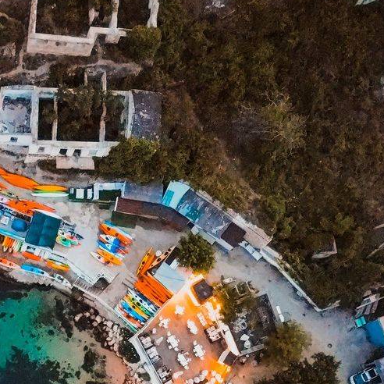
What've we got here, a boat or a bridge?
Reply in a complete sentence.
It is a boat that can be seen here.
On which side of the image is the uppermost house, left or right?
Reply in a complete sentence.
The uppermost house appears in the left half of the scene.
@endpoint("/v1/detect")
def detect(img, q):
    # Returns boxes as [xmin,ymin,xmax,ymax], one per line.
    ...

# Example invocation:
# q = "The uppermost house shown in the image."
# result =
[25,0,126,69]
